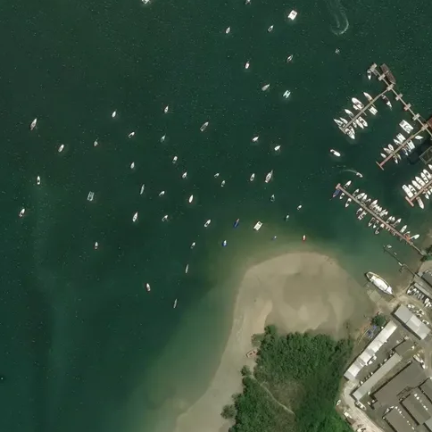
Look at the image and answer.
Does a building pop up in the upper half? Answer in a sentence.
No, no building is visible in the upper half.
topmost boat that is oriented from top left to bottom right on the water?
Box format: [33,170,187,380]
[381,64,394,85]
